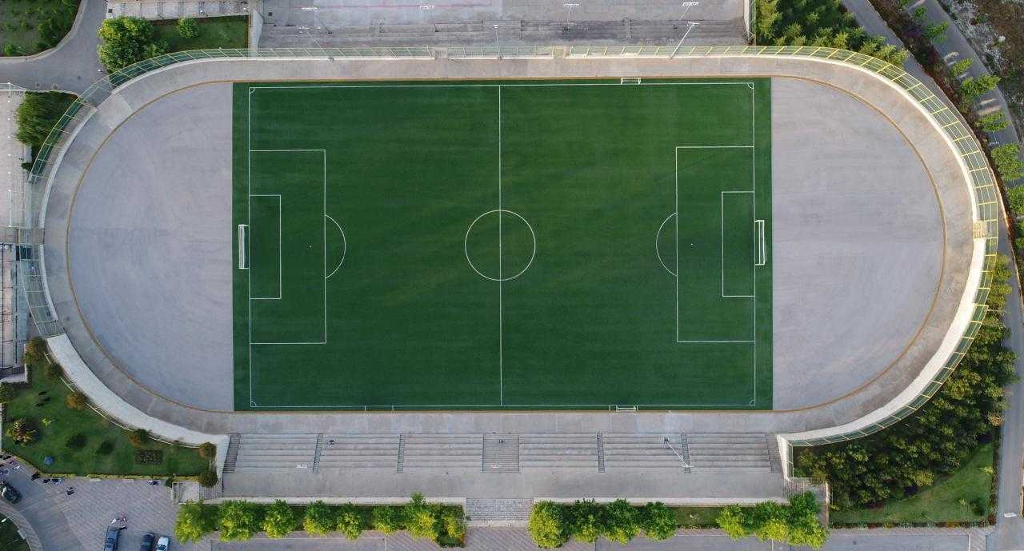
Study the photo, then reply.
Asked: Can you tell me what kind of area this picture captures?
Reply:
sports ground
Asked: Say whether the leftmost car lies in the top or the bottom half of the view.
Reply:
bottom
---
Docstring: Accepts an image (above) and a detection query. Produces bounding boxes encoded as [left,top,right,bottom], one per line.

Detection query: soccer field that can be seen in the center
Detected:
[233,78,773,411]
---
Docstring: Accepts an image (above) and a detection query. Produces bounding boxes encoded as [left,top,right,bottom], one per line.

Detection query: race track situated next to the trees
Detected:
[43,57,974,434]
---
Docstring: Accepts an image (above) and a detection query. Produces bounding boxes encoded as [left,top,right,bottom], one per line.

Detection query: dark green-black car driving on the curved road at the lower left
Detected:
[0,480,23,504]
